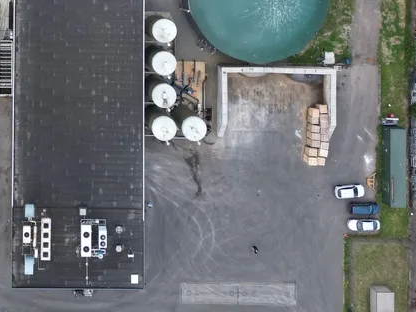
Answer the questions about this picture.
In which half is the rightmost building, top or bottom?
bottom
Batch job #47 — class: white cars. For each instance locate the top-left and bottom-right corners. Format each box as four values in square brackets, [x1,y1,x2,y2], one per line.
[332,183,362,198]
[347,218,381,232]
